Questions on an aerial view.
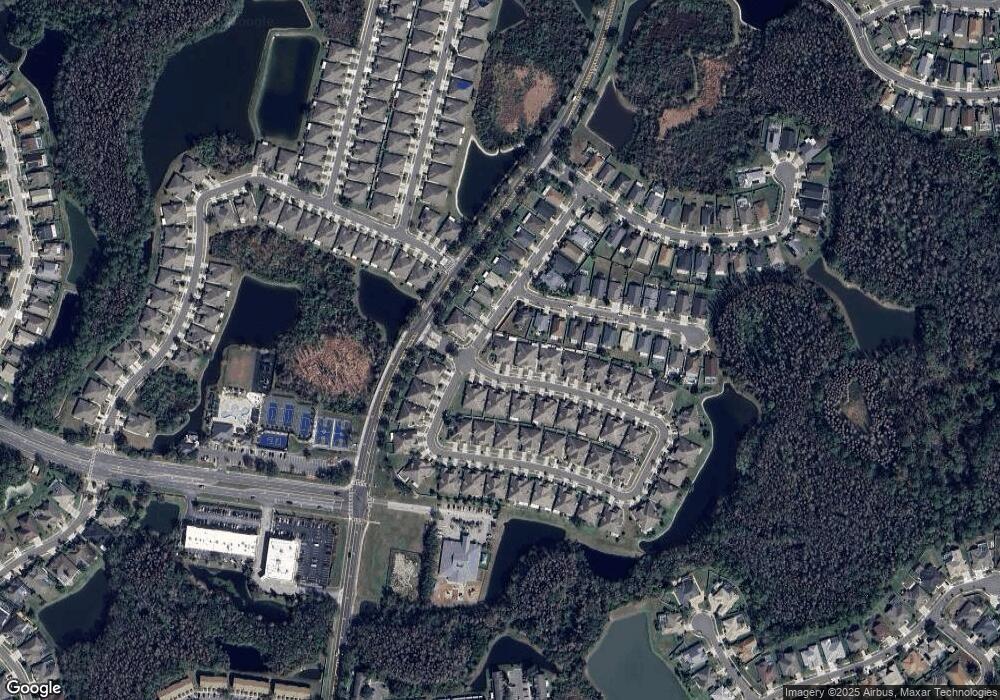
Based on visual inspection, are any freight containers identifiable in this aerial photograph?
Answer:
No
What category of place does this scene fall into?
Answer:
residential area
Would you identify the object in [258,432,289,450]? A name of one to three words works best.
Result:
sports court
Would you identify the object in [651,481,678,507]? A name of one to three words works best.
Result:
house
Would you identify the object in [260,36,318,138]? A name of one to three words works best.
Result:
pond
